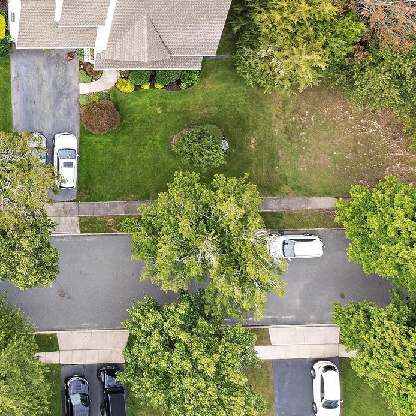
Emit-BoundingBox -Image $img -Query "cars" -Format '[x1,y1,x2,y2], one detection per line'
[61,372,92,416]
[265,230,325,260]
[52,132,80,188]
[100,363,129,416]
[308,358,340,416]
